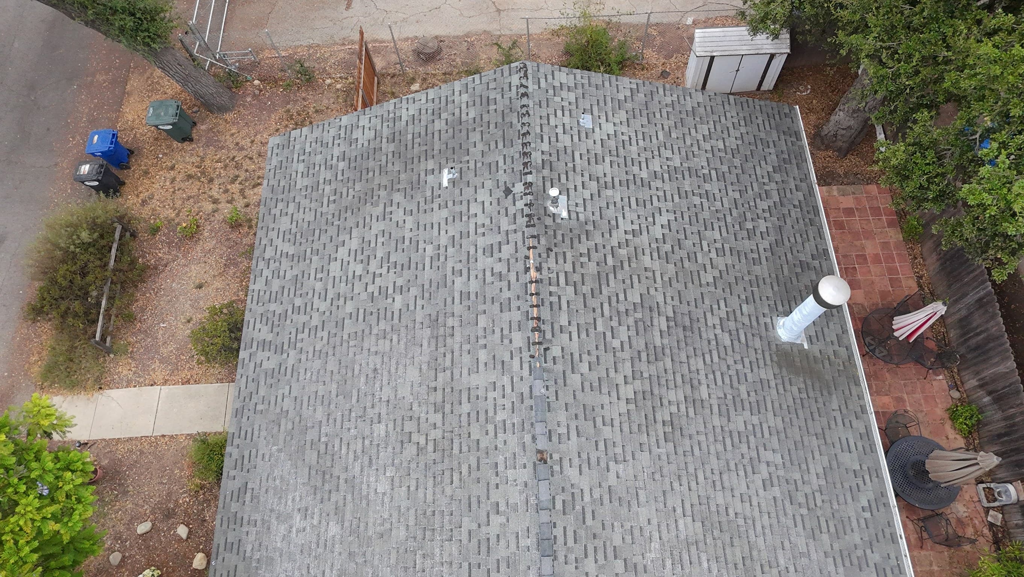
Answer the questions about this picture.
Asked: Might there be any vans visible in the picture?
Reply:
No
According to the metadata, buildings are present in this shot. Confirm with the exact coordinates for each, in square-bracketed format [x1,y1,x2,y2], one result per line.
[685,18,793,89]
[210,61,913,577]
